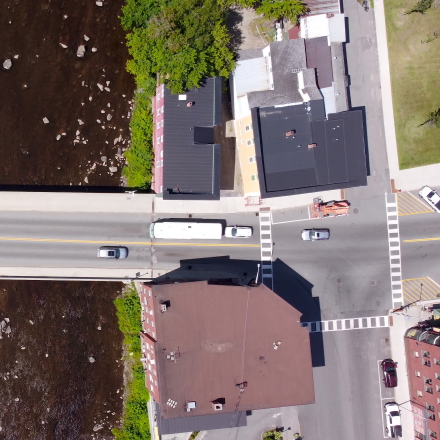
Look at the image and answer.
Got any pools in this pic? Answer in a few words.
No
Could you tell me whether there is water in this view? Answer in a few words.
Yes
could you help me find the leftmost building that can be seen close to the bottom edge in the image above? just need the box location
[139,278,315,434]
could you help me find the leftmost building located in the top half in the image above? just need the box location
[152,65,221,202]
